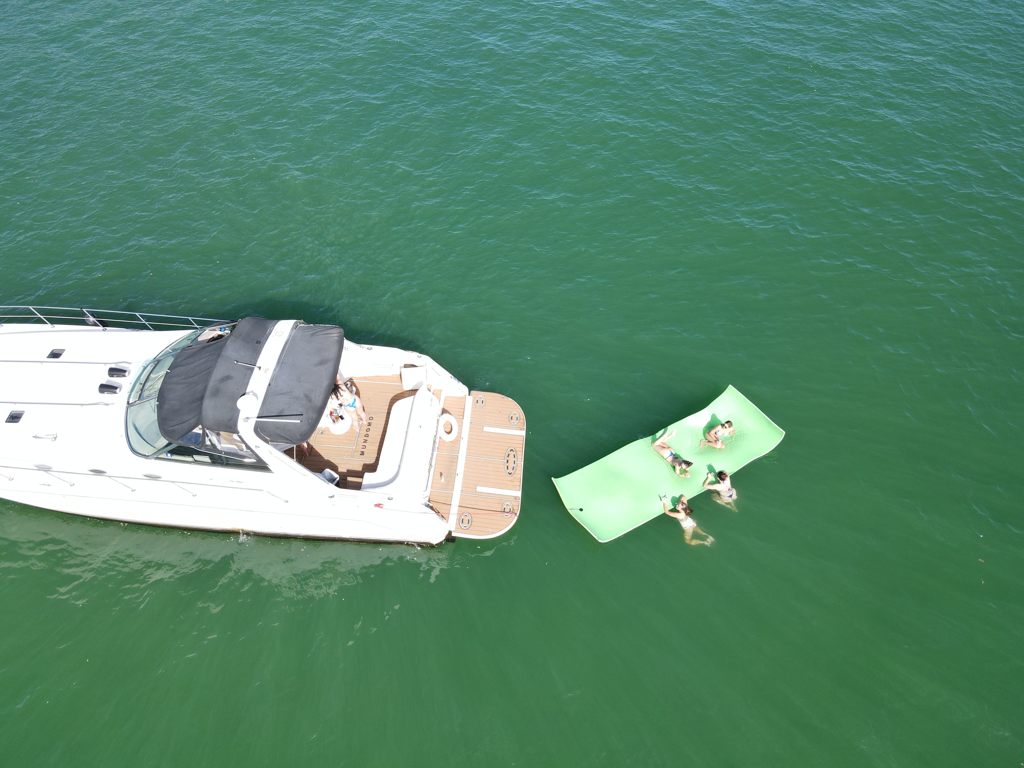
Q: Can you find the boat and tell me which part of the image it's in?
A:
left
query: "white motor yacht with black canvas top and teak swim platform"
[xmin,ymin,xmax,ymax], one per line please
[0,306,527,550]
